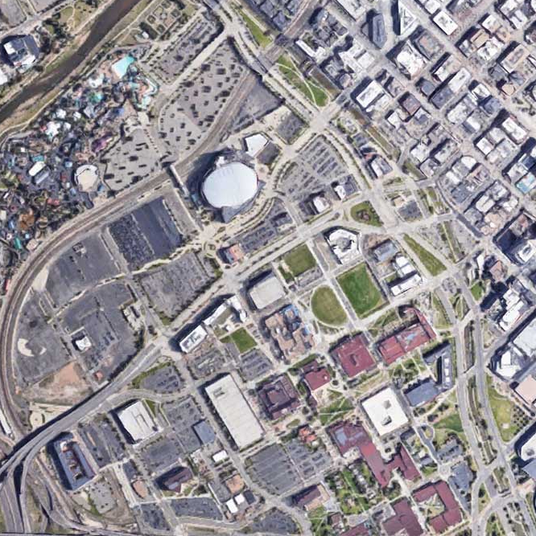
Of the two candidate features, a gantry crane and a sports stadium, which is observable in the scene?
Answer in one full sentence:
This aerial view contains a sports stadium.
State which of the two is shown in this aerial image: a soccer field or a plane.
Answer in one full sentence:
Of the two, only a soccer field appears.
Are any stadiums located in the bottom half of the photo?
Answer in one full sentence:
No, no stadium appears in the bottom half of the photo.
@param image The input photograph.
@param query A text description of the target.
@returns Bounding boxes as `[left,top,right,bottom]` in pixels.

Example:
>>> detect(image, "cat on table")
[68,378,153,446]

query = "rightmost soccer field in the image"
[337,262,389,316]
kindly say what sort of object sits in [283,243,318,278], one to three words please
sports field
